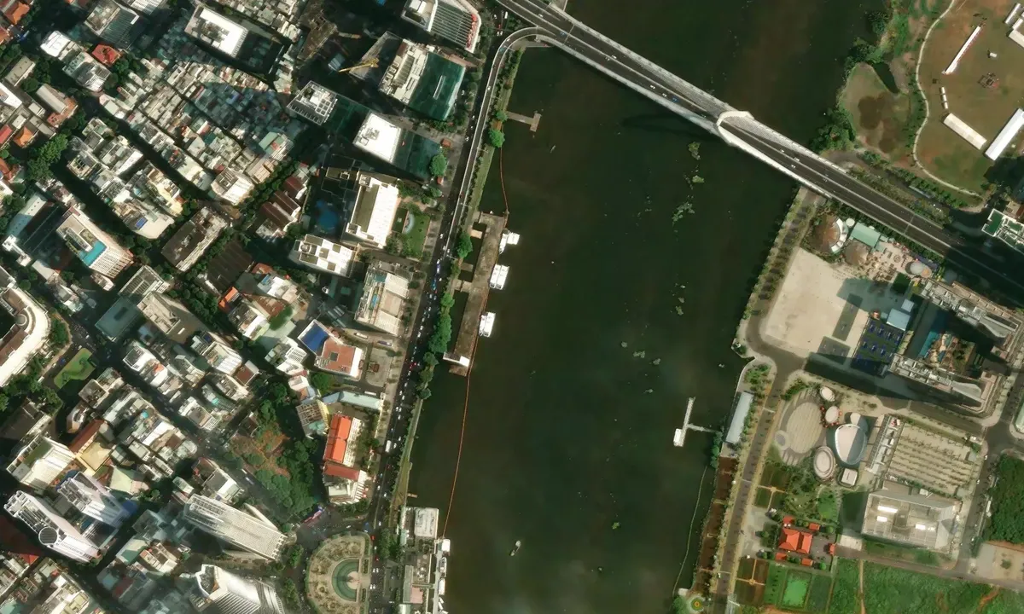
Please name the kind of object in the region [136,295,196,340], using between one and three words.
building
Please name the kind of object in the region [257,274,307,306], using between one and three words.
house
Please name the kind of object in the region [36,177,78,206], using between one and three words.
house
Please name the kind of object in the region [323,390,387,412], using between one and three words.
shed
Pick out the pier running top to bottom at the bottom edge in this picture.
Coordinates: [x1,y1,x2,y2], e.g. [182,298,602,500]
[415,540,451,614]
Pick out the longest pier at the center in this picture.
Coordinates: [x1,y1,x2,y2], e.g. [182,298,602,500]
[449,212,504,377]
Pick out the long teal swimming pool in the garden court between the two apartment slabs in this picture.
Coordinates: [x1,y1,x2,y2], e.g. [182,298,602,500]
[918,310,949,359]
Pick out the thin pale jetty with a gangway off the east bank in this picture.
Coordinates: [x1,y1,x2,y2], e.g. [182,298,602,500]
[673,397,721,446]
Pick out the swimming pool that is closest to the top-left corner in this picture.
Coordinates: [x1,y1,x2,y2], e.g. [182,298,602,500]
[80,240,107,266]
